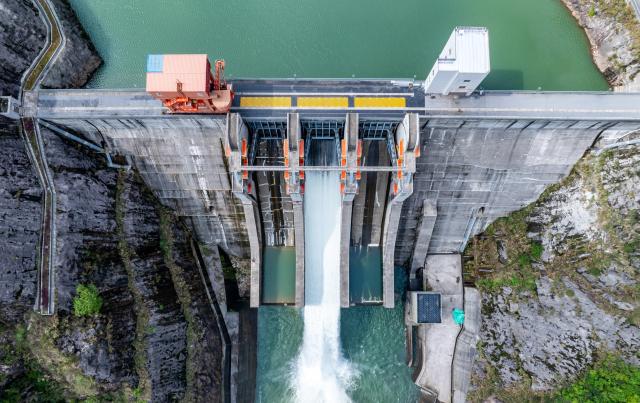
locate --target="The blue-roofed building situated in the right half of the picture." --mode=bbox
[399,291,443,323]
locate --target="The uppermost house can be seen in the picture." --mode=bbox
[424,25,491,94]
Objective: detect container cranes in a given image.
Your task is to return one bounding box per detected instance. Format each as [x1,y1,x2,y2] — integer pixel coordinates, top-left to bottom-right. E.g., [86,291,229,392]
[143,54,234,118]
